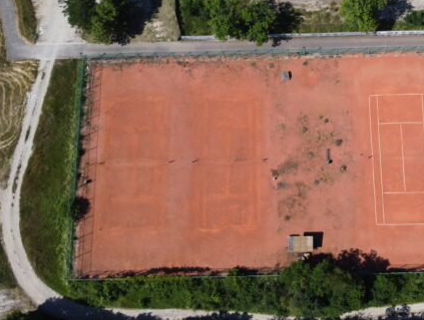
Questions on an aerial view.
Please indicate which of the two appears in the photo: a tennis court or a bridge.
tennis court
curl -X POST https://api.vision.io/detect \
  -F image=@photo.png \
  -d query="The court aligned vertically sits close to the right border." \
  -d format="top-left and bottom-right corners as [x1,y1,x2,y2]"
[352,70,424,252]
